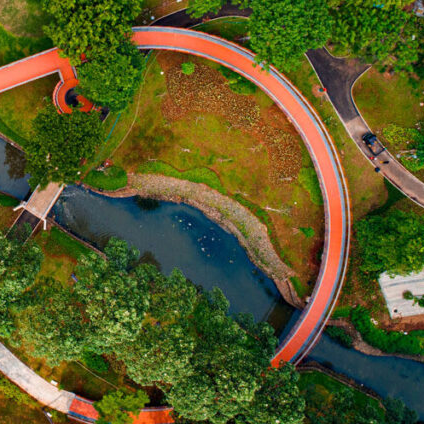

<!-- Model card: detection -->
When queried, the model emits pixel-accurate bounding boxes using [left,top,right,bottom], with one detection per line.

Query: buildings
[380,269,424,319]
